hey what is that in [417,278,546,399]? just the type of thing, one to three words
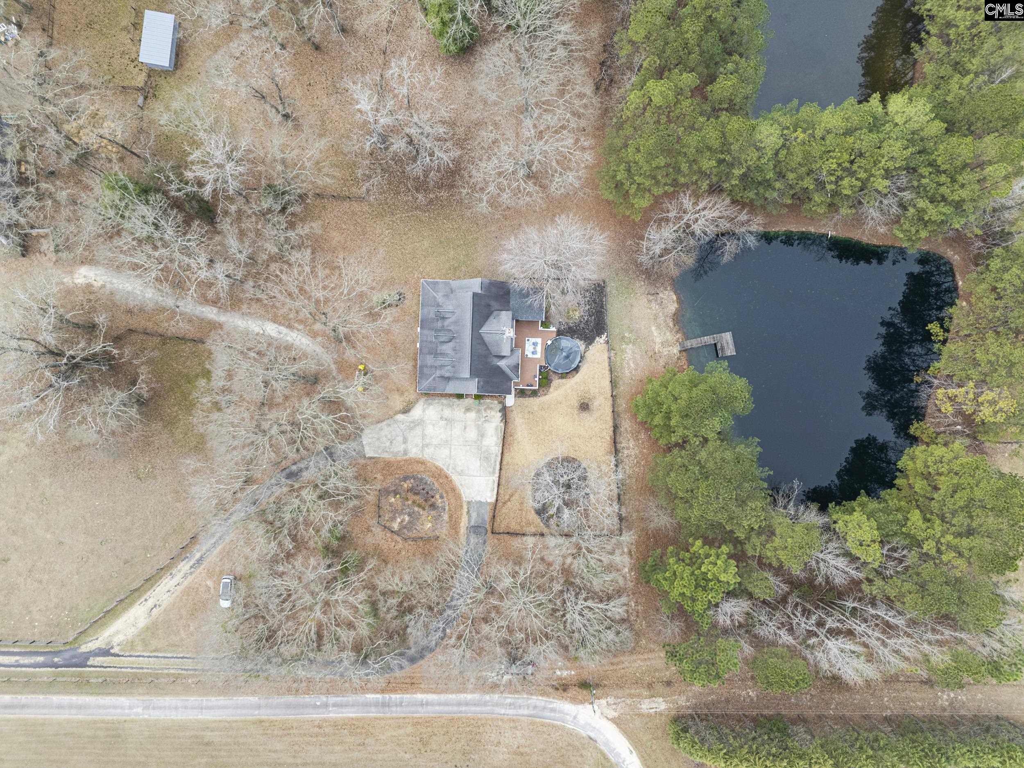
house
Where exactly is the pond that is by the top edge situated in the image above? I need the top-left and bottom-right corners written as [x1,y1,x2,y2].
[745,0,939,122]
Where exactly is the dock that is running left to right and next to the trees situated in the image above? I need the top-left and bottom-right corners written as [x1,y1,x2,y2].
[680,332,736,357]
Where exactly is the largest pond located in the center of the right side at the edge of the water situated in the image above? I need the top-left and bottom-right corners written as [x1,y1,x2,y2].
[676,232,956,507]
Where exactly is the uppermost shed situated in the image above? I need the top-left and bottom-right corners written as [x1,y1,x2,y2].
[139,10,182,73]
